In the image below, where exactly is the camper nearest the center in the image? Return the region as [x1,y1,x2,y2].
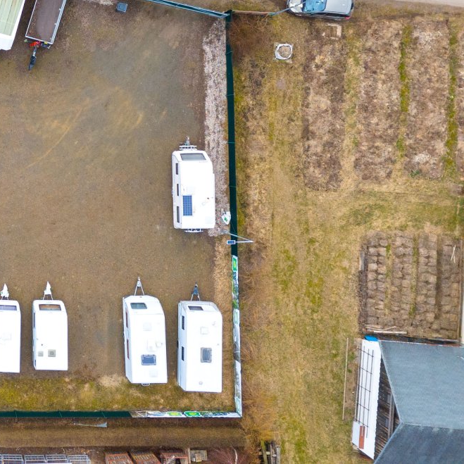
[168,137,217,231]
